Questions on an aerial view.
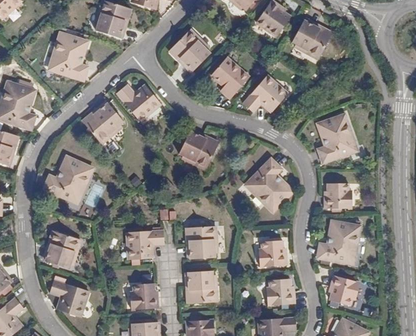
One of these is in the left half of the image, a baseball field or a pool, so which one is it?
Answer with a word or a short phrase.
pool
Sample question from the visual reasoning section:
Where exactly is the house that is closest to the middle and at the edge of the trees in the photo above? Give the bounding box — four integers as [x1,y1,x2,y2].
[184,134,220,170]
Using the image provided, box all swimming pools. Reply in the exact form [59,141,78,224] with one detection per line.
[83,181,107,210]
